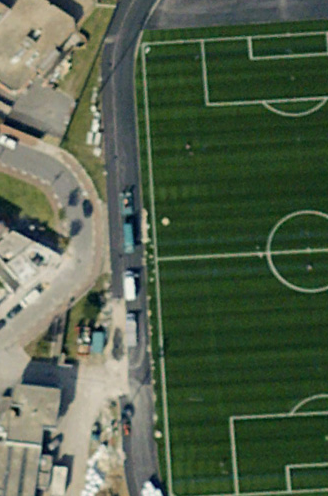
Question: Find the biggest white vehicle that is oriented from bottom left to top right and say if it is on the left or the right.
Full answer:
It is on the left.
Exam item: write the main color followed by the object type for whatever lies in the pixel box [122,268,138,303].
white vehicle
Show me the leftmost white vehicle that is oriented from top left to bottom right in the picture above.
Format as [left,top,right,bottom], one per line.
[0,135,18,150]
